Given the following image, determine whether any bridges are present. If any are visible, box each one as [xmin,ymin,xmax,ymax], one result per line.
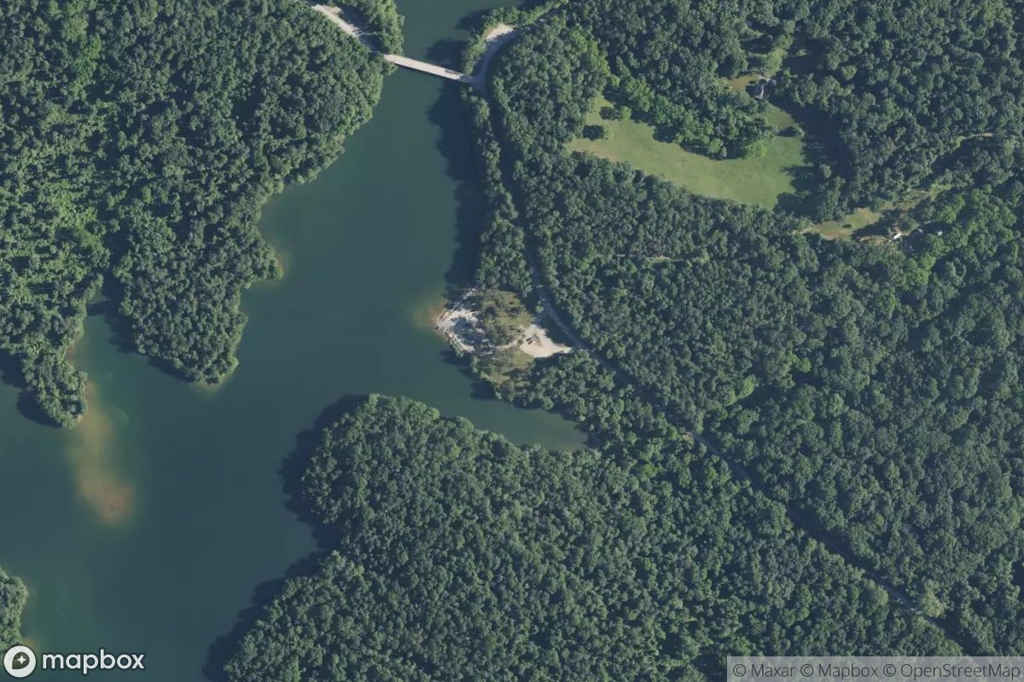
[381,51,478,84]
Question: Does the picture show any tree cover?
Yes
